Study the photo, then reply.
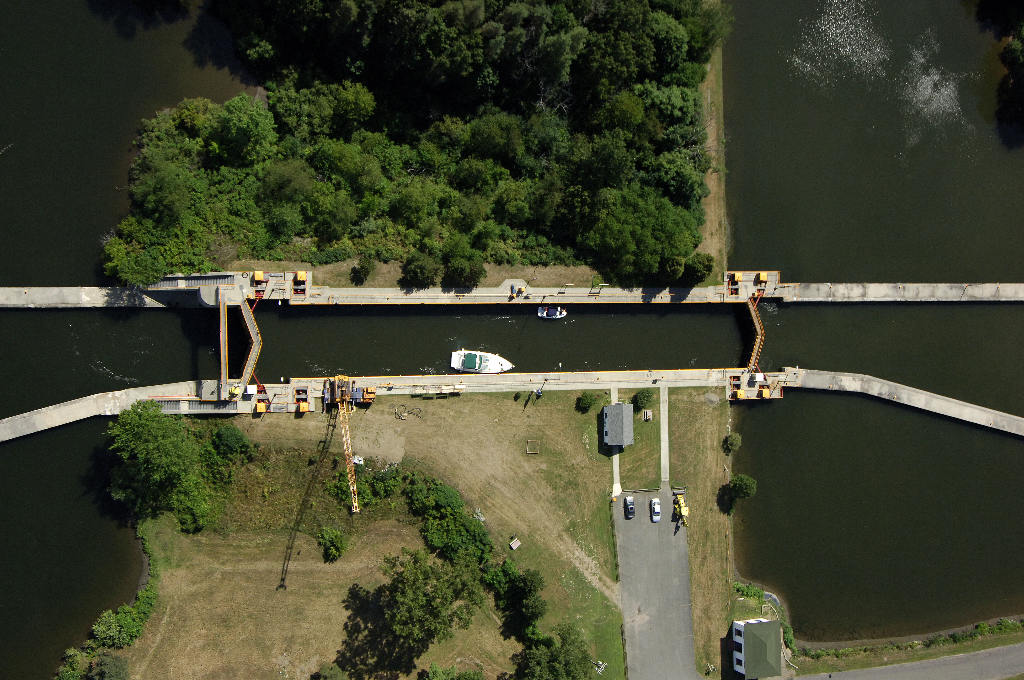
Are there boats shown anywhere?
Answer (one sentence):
Yes, the picture does show a boat.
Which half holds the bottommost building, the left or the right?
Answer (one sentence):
You can find the bottommost building on the right side of the picture.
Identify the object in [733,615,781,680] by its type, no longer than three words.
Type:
building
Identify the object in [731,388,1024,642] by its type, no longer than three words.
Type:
pond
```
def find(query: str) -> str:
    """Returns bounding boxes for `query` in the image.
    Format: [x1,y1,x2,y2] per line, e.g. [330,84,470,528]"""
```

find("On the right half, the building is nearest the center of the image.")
[604,401,636,448]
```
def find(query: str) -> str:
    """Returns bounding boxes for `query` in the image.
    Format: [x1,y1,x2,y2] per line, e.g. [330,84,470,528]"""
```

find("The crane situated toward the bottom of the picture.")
[322,375,375,514]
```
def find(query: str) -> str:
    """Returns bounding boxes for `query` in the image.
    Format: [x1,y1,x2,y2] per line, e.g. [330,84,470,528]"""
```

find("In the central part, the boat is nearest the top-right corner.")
[536,307,566,319]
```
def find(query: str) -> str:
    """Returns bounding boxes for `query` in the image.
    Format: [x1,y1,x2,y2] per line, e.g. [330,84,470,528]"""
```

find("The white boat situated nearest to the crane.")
[449,349,512,374]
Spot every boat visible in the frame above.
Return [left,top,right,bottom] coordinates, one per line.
[449,349,512,374]
[536,307,566,319]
